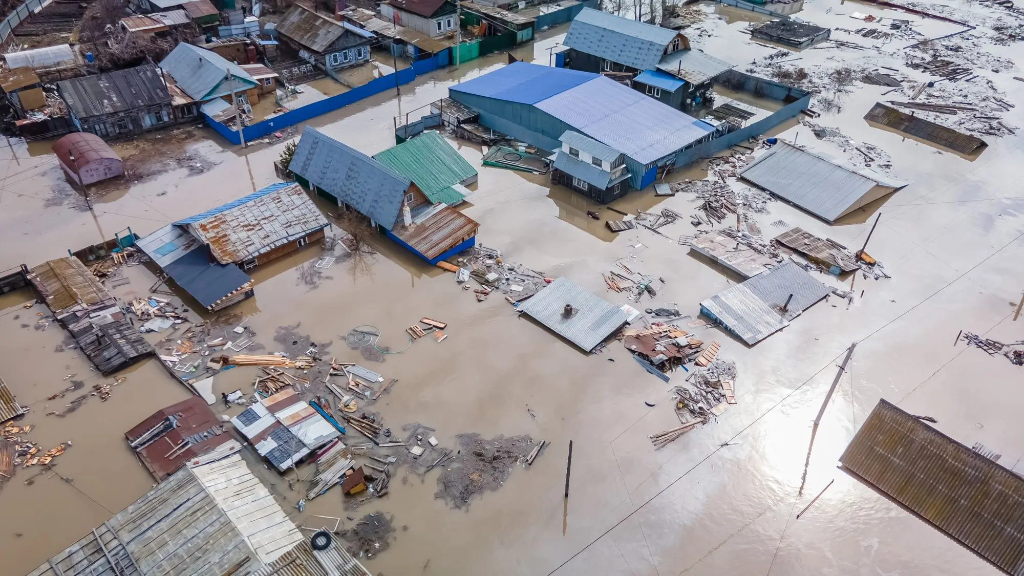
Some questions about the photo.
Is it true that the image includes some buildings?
Yes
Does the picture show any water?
Yes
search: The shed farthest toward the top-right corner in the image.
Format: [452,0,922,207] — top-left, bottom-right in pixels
[863,103,982,157]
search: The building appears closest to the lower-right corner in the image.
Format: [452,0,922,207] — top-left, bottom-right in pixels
[838,396,1024,576]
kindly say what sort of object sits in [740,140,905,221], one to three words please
house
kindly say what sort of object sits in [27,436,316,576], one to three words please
house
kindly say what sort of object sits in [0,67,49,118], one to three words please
shed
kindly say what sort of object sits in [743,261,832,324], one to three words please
shed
